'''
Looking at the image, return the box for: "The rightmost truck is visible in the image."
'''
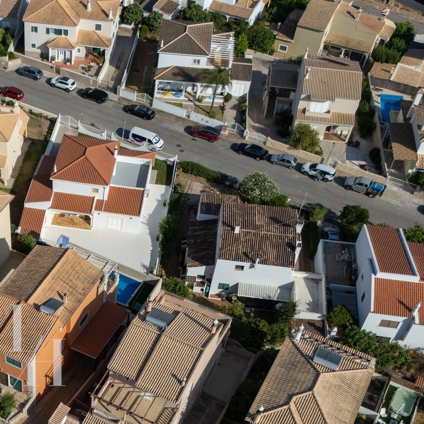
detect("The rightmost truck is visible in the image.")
[343,174,387,197]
